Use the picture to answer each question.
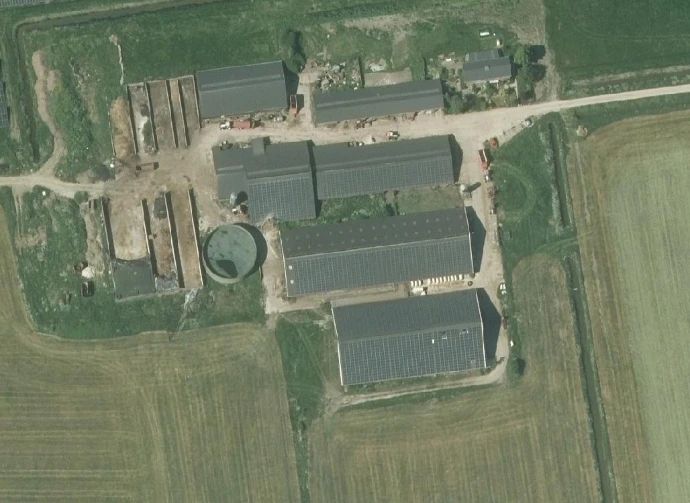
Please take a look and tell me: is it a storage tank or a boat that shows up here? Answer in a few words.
storage tank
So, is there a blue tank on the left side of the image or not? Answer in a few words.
No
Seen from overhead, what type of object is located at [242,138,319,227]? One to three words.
barn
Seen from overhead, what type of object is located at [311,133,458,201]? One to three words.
barn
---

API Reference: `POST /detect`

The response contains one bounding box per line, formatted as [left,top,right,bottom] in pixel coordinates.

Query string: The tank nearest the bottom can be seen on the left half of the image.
[201,224,258,281]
